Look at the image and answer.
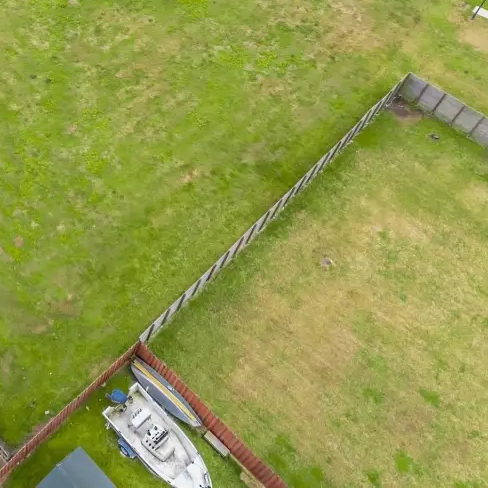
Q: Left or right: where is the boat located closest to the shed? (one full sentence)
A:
It is on the left.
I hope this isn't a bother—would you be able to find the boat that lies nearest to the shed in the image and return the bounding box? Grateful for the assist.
[101,380,215,488]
